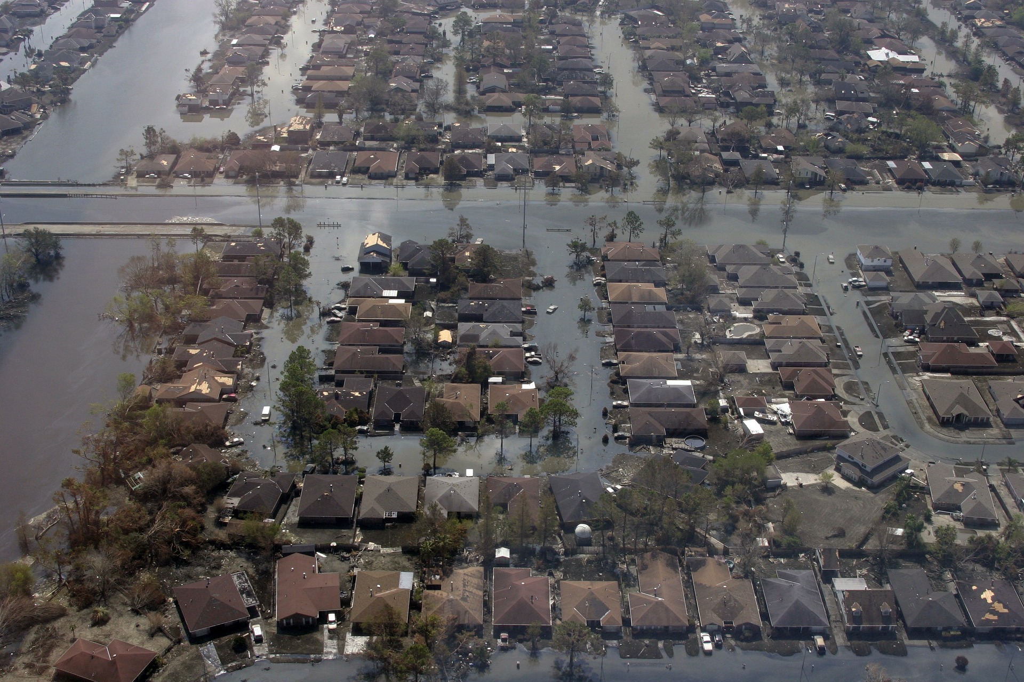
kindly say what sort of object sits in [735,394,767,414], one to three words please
building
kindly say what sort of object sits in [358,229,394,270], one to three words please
house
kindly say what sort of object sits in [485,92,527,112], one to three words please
house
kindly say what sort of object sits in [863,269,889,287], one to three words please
building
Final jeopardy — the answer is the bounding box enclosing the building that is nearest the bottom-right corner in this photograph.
[959,578,1024,634]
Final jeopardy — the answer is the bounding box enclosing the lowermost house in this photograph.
[53,638,160,682]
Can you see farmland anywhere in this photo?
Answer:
No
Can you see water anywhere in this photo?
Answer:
Yes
